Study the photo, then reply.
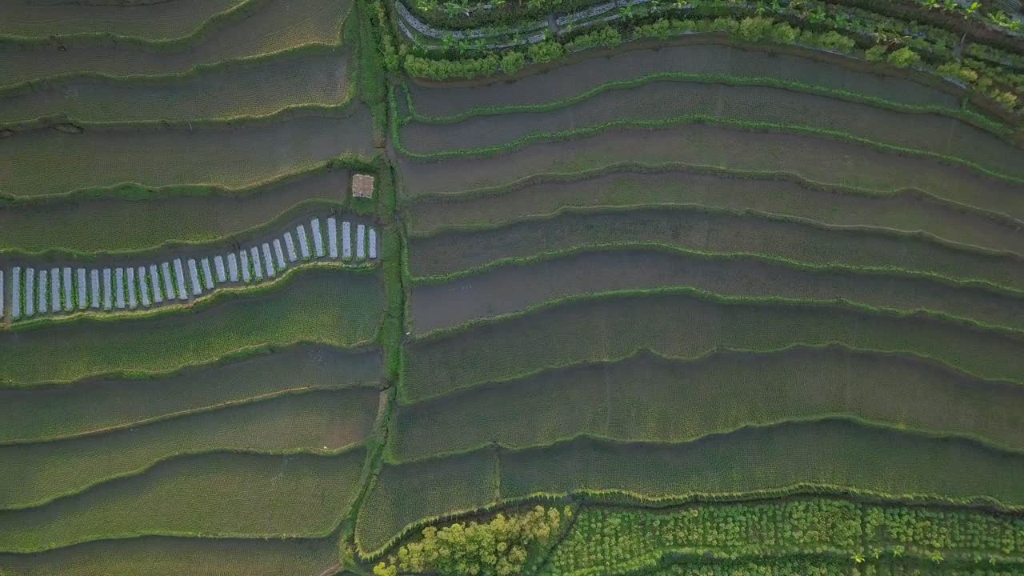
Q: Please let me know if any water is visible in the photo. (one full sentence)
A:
Yes, water shows up in the scene.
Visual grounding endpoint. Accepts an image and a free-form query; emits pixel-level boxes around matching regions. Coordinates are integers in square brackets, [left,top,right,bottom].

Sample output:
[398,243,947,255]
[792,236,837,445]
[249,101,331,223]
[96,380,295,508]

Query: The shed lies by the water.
[352,174,375,199]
